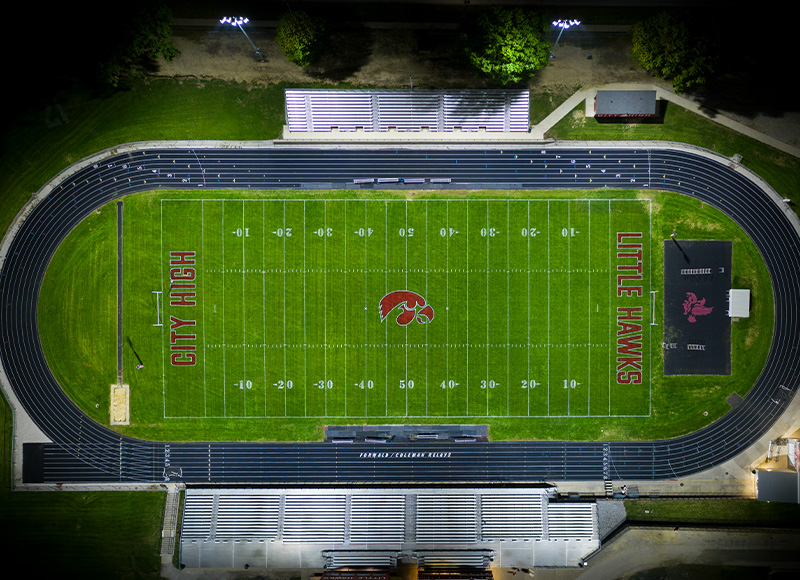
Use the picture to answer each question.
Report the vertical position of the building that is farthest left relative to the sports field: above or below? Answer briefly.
above it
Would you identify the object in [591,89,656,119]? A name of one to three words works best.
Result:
building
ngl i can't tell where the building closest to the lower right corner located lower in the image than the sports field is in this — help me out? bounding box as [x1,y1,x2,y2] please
[753,468,800,503]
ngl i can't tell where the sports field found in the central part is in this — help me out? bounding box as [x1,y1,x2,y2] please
[40,188,773,442]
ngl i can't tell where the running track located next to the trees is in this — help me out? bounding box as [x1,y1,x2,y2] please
[0,147,800,483]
